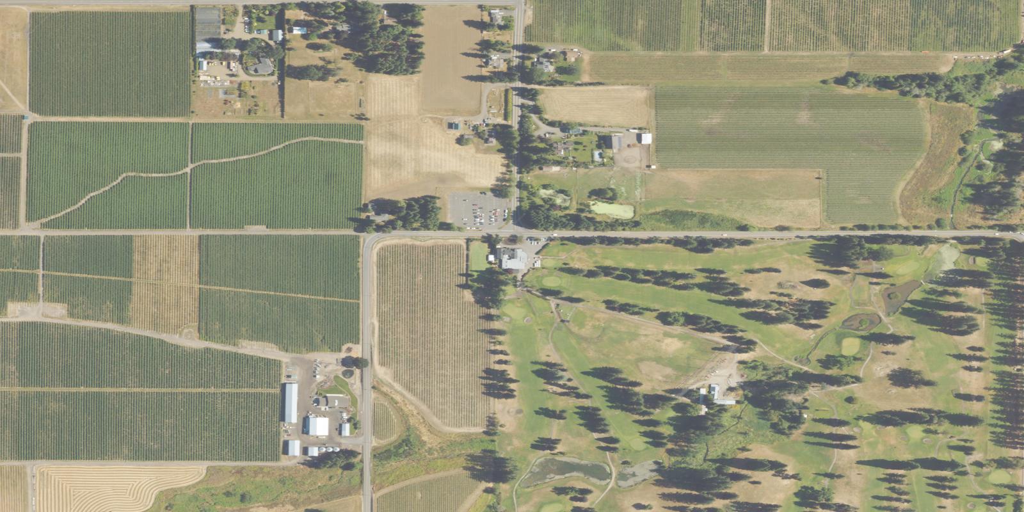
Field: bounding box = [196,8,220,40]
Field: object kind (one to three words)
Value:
house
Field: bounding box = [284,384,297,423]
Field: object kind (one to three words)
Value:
barn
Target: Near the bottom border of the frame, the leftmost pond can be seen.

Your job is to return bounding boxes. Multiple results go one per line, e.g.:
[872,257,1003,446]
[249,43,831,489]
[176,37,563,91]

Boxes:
[519,455,610,488]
